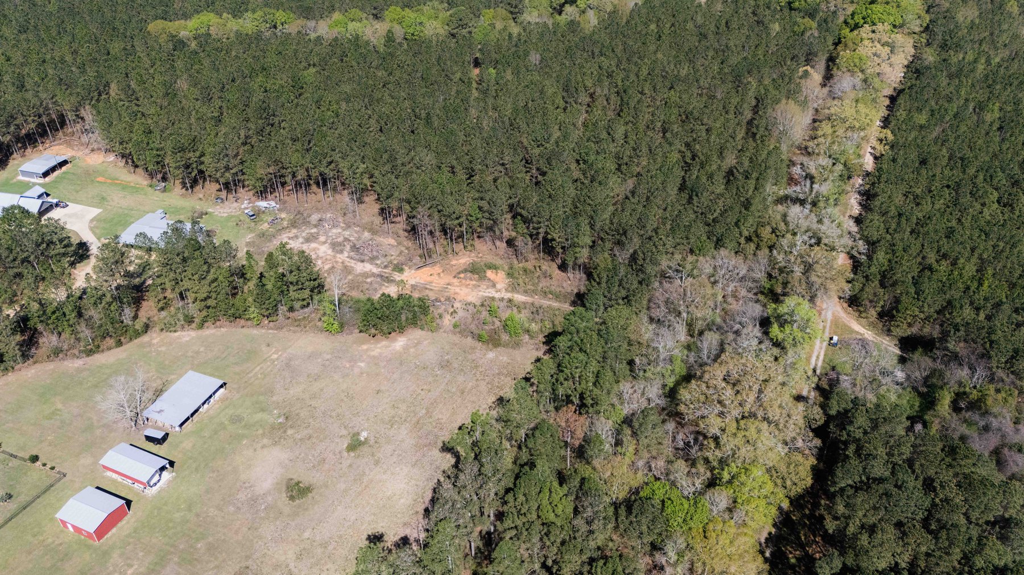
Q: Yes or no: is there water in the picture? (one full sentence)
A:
No, water can't be seen anywhere here.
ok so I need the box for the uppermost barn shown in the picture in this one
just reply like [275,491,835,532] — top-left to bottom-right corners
[18,154,69,180]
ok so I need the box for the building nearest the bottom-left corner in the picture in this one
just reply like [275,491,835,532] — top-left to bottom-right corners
[56,487,130,544]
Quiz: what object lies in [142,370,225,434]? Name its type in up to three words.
shed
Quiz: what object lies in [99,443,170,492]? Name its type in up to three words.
shed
